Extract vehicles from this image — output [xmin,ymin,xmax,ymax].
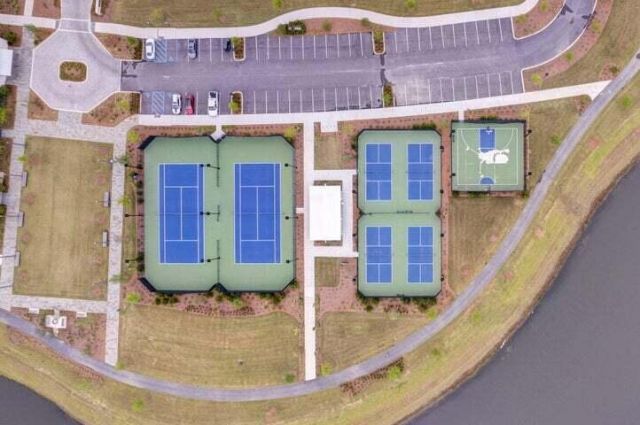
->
[184,93,196,114]
[209,90,221,116]
[145,38,156,59]
[171,93,183,114]
[188,38,199,58]
[224,39,233,52]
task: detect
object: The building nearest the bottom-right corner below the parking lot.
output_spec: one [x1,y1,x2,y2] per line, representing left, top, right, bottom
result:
[309,184,342,243]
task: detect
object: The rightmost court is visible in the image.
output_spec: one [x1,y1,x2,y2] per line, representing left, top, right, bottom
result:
[452,122,524,190]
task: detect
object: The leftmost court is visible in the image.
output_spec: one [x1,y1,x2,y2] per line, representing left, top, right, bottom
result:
[144,136,218,291]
